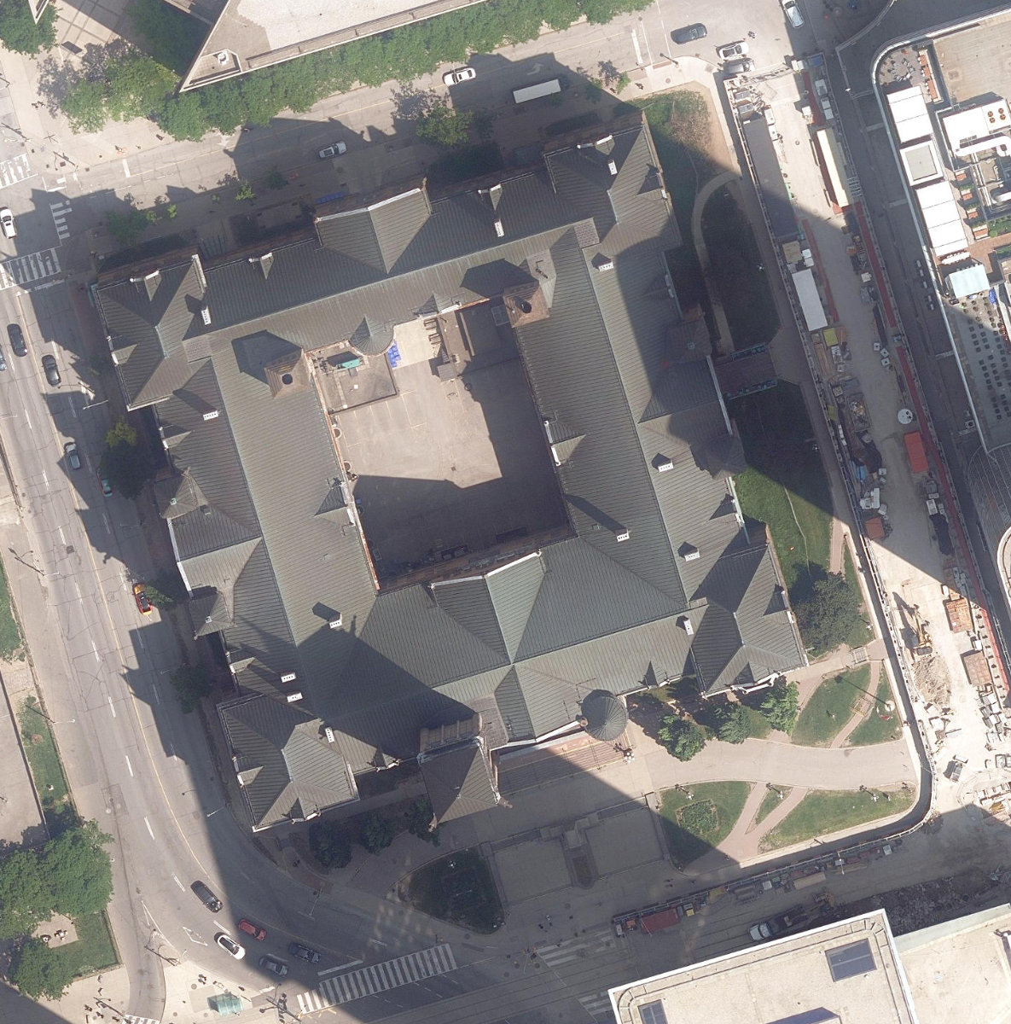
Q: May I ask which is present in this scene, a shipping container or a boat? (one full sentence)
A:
Of the two, only a shipping container appears.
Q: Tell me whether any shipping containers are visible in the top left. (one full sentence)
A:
No, I can find no shipping container in the top left.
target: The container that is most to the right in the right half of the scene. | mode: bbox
[904,431,931,476]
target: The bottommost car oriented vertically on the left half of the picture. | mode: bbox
[134,583,152,617]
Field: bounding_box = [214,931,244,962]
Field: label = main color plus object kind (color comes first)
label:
white car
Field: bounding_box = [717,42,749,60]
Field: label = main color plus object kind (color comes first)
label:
white car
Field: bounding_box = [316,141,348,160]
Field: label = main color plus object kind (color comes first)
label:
gray vehicle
